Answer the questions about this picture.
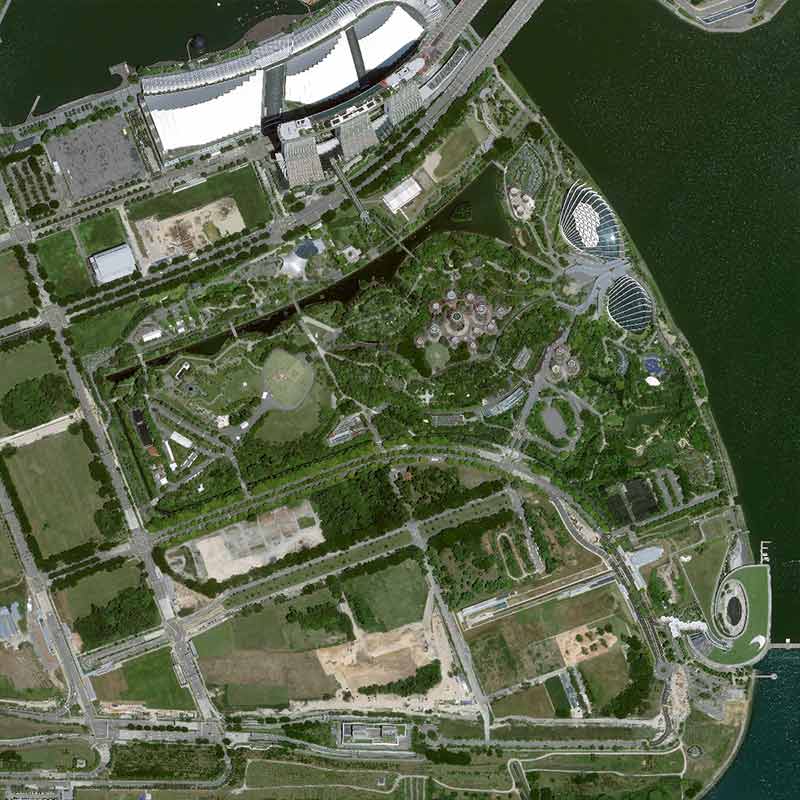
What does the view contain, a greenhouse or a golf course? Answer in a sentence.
This aerial view contains a greenhouse.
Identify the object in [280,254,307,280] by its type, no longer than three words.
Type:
tent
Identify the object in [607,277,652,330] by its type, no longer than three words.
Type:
greenhouse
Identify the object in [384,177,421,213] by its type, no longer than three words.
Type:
shed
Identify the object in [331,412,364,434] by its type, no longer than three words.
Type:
building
